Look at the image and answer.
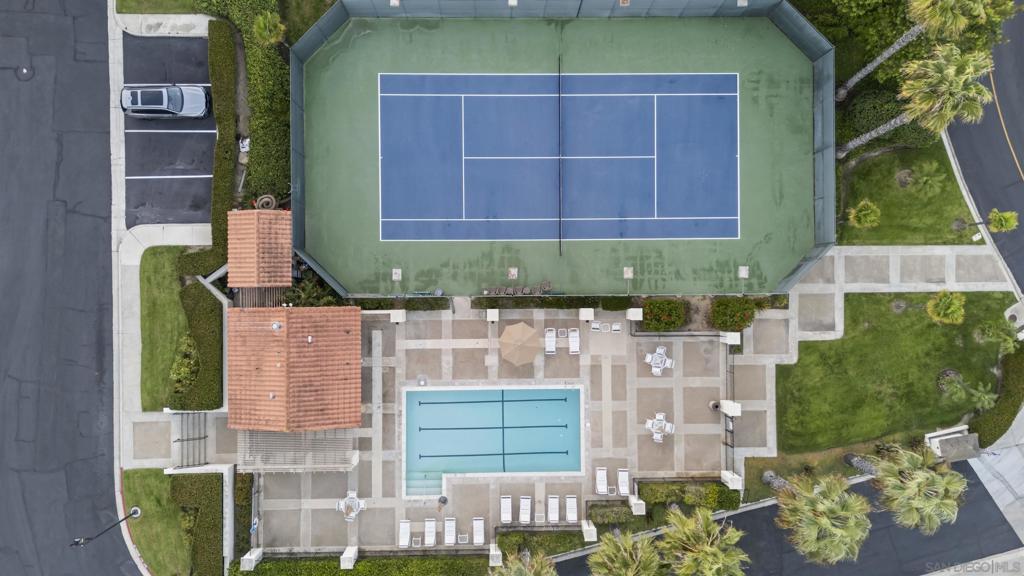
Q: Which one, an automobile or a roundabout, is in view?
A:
automobile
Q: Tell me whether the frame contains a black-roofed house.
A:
No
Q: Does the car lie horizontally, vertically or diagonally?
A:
horizontally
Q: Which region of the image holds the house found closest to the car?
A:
left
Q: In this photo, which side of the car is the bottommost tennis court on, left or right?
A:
right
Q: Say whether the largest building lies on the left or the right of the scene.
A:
left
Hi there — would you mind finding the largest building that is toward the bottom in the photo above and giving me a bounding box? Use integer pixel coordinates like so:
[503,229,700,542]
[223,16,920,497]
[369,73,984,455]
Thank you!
[227,303,365,436]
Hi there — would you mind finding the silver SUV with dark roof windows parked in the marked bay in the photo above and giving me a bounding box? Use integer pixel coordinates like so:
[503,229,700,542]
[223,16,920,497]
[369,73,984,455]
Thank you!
[121,83,214,120]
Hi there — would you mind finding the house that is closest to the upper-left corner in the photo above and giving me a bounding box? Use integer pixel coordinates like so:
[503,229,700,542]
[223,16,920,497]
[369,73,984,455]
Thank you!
[227,208,302,289]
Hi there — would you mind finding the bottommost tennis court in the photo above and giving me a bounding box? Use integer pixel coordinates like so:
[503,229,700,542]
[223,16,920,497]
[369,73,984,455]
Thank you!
[305,16,814,295]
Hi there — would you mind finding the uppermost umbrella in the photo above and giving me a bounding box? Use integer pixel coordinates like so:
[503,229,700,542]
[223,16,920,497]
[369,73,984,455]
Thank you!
[500,324,539,362]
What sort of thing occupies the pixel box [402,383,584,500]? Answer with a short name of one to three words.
swimming pool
